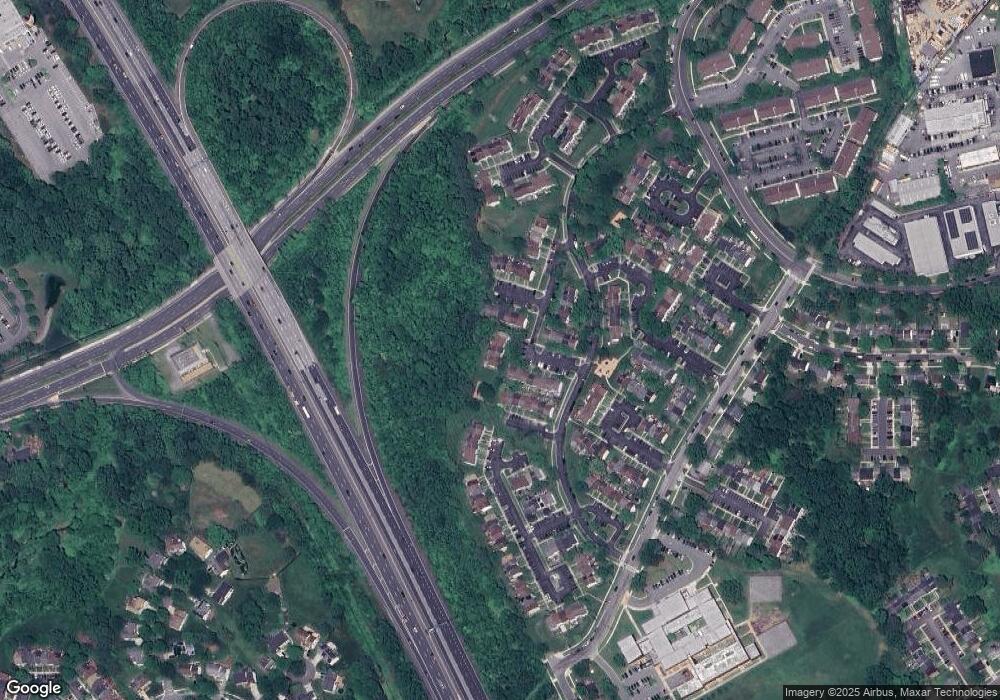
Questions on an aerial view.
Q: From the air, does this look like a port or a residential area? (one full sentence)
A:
This image shows a residential area.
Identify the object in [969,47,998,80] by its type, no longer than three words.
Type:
building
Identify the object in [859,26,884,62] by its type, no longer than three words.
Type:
building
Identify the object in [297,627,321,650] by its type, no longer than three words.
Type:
house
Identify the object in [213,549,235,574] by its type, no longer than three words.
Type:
house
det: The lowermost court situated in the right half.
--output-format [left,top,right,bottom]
[759,622,796,656]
